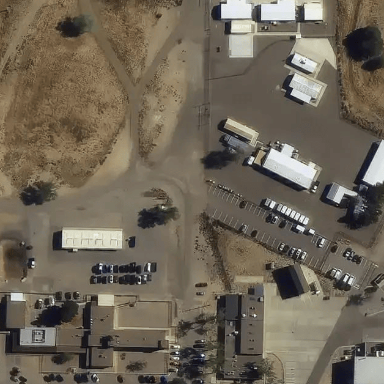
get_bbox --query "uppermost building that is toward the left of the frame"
[61,228,123,251]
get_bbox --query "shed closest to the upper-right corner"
[304,2,323,21]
